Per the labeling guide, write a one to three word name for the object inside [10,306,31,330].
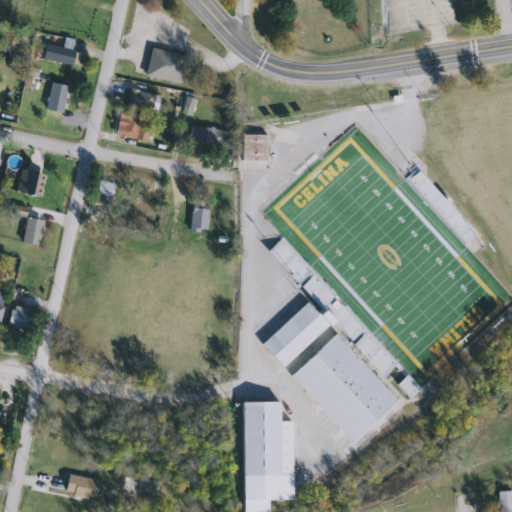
house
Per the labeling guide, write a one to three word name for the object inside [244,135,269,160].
building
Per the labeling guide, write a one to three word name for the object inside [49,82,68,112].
house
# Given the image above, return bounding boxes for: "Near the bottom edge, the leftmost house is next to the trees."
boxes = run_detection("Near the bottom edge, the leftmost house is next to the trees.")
[66,474,98,500]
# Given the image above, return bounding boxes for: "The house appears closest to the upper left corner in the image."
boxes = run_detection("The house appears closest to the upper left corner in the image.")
[45,37,76,65]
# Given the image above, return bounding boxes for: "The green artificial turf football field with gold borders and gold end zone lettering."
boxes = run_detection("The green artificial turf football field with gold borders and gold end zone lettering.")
[260,124,512,384]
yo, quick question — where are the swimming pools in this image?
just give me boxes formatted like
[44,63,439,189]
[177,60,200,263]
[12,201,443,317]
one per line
[6,154,22,174]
